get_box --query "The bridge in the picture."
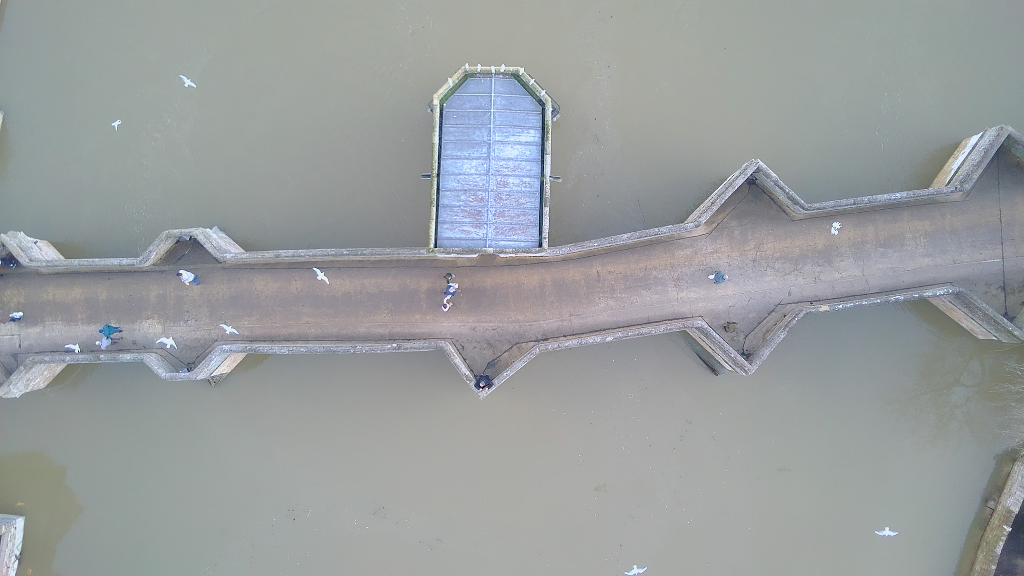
[0,125,1024,399]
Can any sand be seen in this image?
No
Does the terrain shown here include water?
Yes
